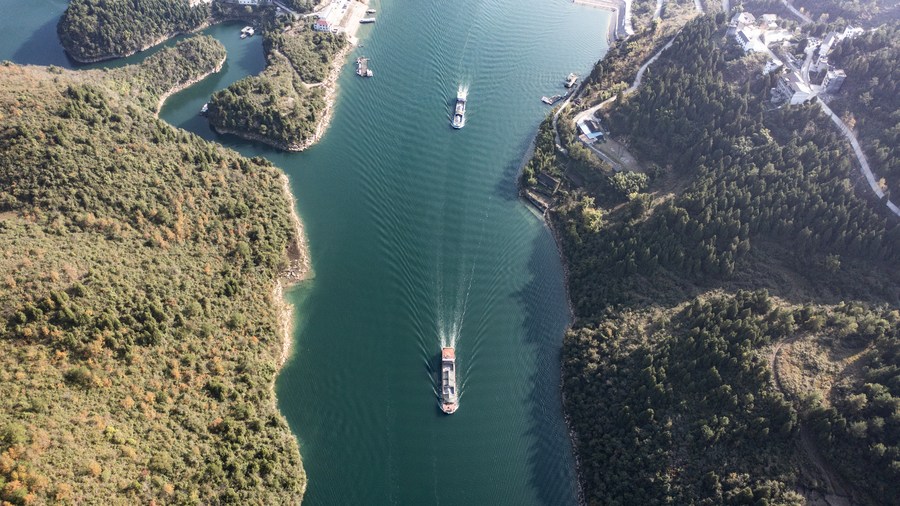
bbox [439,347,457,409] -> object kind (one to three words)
ship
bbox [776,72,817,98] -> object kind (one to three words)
building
